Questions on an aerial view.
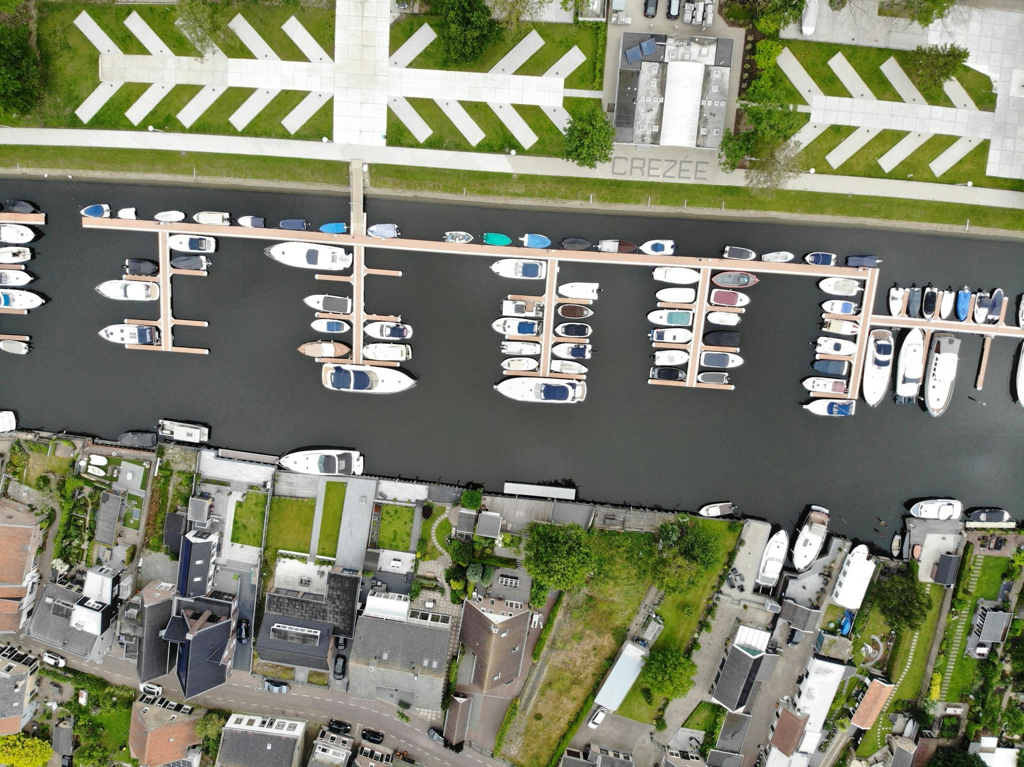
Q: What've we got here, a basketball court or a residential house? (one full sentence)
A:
It is a residential house that can be seen here.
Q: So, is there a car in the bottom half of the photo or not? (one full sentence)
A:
Yes, looking in the bottom half of the photo, one can make out a car.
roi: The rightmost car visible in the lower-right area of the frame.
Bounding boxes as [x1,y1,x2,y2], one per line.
[787,627,801,647]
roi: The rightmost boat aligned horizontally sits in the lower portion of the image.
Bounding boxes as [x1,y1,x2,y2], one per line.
[970,508,1010,522]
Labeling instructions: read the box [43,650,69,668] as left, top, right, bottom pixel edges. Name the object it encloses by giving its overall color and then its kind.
white car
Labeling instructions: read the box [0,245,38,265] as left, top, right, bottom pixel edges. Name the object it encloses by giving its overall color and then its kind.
white boat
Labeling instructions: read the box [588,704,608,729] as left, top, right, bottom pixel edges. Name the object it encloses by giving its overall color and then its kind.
white car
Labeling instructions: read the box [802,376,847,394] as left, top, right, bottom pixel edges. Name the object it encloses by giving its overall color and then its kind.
white boat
